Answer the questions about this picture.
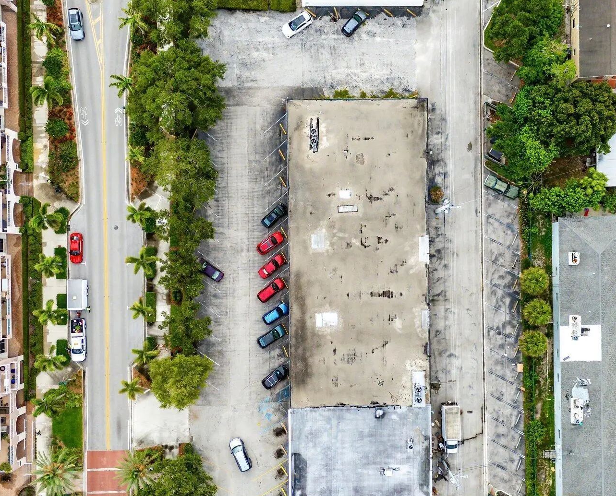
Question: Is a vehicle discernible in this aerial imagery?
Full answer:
Yes, looking at the shot, I can spot a vehicle.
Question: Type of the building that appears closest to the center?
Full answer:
Looking closely, the building that appears closest to the center is a warehouse.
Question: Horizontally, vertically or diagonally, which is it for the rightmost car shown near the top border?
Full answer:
The rightmost car shown near the top border is laid out diagonally.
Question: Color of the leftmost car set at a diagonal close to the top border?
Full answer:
The color of the leftmost car set at a diagonal close to the top border is white.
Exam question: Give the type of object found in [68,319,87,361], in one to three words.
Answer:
vehicle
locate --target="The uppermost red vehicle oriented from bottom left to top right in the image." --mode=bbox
[255,230,285,256]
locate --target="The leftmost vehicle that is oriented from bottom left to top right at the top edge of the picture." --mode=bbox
[282,10,314,38]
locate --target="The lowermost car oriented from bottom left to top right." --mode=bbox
[260,363,290,391]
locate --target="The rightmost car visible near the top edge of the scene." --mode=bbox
[341,9,367,37]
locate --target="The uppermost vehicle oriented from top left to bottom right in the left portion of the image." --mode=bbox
[195,257,226,283]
